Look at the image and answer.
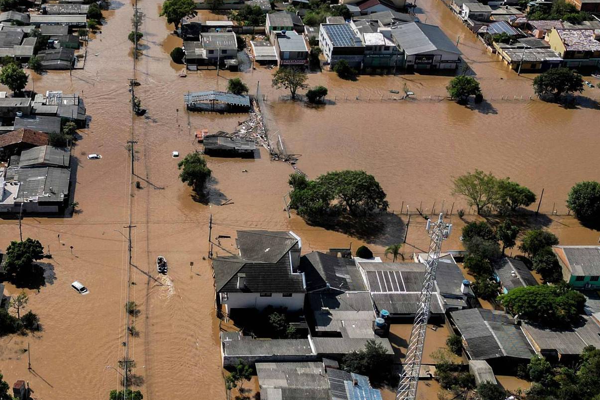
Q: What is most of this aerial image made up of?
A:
water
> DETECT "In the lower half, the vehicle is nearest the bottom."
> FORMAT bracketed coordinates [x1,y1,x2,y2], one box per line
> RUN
[71,282,90,297]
